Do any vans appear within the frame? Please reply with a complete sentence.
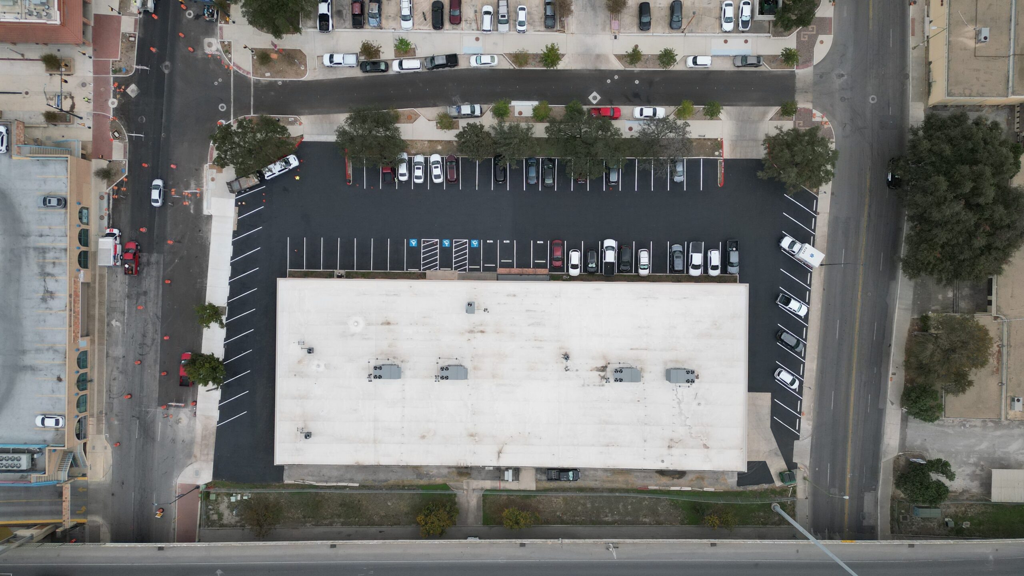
Yes, the picture does show a van.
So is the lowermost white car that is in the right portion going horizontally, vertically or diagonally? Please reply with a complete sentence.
I'd say the lowermost white car that is in the right portion is aligned diagonally in the picture.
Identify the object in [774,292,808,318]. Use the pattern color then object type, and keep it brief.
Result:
white truck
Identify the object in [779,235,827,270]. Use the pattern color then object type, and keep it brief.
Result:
white van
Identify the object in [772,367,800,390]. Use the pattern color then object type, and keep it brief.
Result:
white car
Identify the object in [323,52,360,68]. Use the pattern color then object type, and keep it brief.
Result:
white vehicle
